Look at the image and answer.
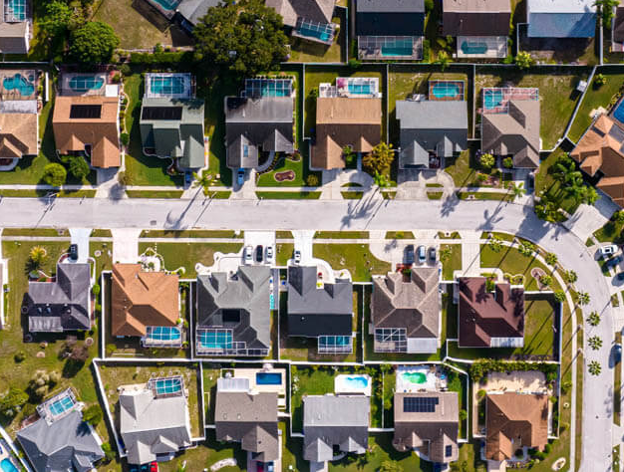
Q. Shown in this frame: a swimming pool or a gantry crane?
swimming pool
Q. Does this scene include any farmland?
No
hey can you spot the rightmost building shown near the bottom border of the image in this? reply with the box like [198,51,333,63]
[486,392,548,465]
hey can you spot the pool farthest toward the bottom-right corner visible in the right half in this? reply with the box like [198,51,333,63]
[396,366,447,391]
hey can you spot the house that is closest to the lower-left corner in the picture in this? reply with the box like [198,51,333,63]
[15,409,104,472]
